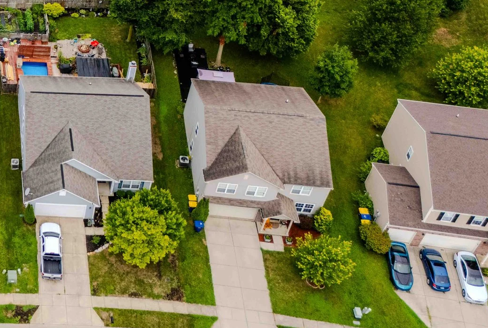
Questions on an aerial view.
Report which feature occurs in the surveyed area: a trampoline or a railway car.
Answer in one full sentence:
The image shows a trampoline.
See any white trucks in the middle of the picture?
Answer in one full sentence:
No, looking in the middle of the picture, there is no white truck.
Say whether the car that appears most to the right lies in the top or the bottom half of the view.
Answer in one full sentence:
You can find the car that appears most to the right in the bottom half.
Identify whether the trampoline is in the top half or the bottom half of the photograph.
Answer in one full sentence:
You can find the trampoline in the top half.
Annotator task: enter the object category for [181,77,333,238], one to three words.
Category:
house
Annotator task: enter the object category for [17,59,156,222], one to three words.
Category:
house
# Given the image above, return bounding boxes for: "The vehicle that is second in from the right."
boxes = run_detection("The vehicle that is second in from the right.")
[416,248,452,295]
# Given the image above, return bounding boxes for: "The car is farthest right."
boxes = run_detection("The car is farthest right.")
[453,253,488,303]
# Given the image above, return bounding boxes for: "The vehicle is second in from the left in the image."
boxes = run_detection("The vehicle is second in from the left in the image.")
[385,243,416,291]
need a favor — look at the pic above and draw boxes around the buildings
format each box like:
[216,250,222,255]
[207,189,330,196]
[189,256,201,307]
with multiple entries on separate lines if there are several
[365,99,488,269]
[17,59,156,222]
[181,77,333,238]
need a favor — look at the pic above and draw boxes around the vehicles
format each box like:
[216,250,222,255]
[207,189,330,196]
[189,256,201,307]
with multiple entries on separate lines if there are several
[453,253,488,303]
[39,224,63,281]
[385,243,416,291]
[416,248,452,295]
